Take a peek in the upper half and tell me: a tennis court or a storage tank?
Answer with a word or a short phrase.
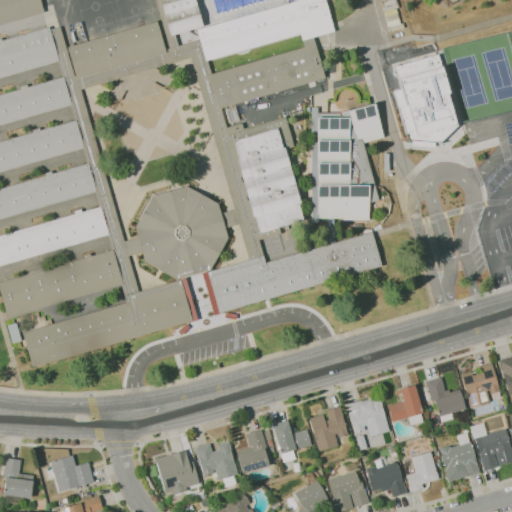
tennis court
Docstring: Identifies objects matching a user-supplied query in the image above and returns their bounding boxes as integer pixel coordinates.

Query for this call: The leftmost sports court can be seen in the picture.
[54,0,160,45]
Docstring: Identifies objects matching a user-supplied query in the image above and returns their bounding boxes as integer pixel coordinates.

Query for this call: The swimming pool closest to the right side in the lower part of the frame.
[474,400,500,418]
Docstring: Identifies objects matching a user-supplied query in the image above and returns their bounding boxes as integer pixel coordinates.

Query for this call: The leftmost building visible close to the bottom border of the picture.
[4,459,34,499]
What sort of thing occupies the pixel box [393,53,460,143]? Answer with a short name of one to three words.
building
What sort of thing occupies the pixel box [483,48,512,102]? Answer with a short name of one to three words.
tennis court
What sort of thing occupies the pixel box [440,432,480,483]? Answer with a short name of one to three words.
house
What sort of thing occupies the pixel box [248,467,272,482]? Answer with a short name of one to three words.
swimming pool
